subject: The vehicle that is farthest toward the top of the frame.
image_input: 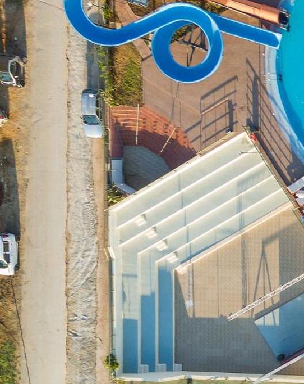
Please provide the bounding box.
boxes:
[0,52,27,89]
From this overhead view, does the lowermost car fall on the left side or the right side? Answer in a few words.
left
